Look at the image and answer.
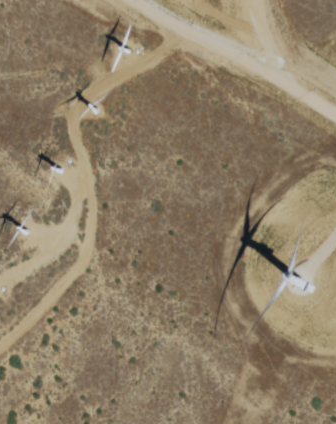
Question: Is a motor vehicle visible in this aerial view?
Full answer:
No, I can't see a single motor vehicle in this photo.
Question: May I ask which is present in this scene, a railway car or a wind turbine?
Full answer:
Of the two, only a wind turbine appears.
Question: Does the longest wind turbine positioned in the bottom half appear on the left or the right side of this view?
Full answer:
The longest wind turbine positioned in the bottom half is on the right side of the image.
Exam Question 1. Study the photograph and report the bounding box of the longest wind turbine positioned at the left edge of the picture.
[8,207,30,248]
